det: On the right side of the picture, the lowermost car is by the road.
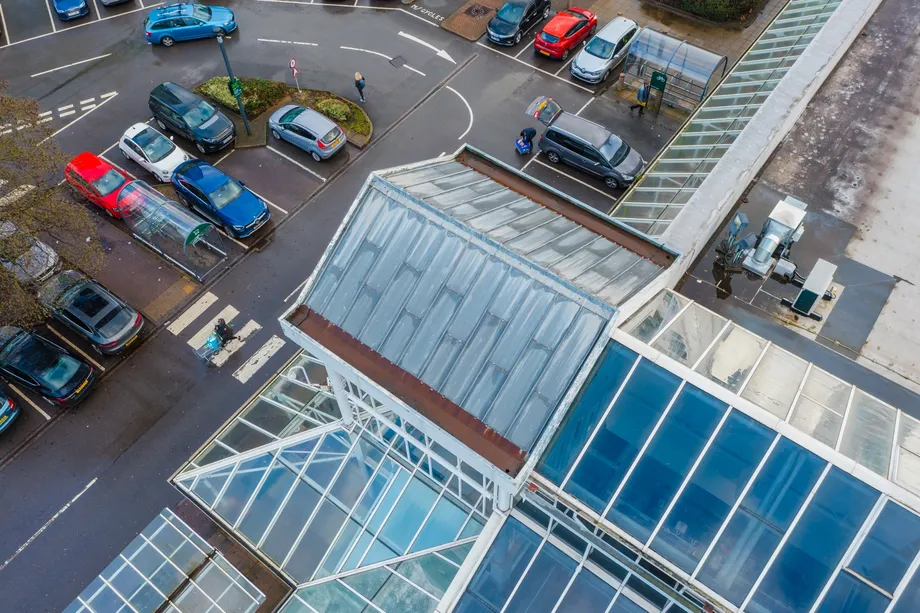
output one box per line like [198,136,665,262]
[527,99,649,189]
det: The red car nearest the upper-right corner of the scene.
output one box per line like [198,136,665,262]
[534,6,598,60]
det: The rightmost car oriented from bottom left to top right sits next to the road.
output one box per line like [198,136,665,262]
[571,13,642,84]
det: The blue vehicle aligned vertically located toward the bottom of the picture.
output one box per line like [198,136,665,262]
[0,387,21,432]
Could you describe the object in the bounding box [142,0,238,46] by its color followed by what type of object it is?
blue car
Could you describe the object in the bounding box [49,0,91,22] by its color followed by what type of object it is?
blue car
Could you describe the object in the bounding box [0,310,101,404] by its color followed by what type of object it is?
black car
